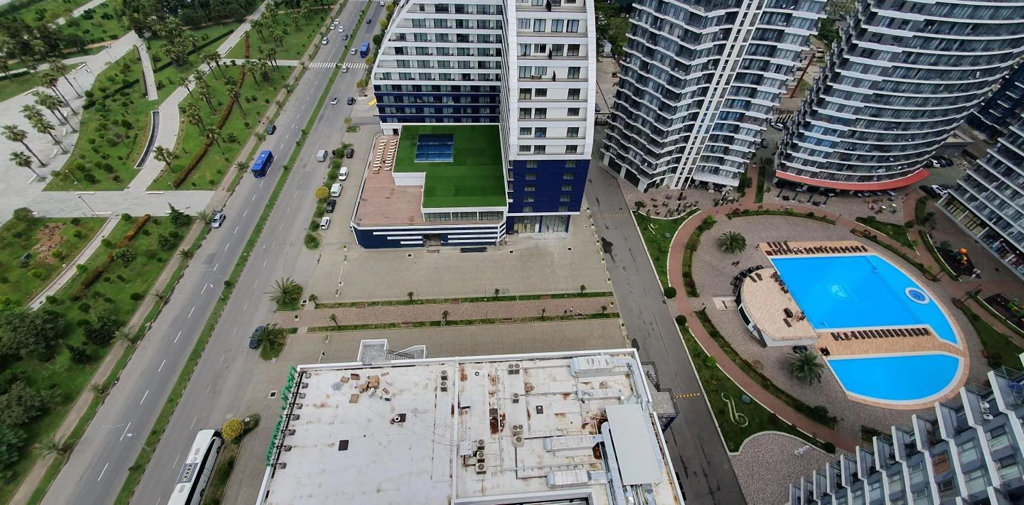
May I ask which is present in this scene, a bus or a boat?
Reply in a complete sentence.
The image shows a bus.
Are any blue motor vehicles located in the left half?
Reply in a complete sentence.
Yes, a blue motor vehicle appears in the left half.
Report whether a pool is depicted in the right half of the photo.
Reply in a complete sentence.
Yes, a pool is visible in the right half of the photo.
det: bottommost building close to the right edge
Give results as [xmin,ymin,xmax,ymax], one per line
[794,353,1024,505]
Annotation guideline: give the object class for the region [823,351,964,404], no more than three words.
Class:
swimming pool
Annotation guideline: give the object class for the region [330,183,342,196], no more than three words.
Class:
vehicle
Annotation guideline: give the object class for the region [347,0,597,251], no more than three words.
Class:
building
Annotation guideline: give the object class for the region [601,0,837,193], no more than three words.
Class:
building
